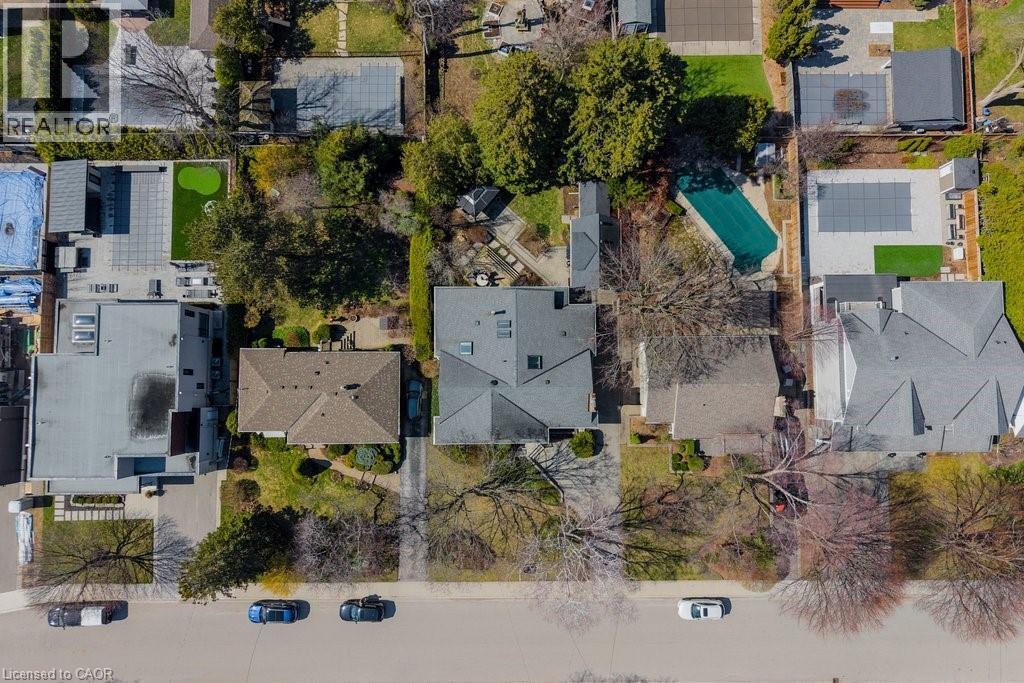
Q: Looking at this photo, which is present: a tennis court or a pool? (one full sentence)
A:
I can see a pool in this picture.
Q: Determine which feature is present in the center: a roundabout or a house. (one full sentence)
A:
Looking in the center, you will find a house.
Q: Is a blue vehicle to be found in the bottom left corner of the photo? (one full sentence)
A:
Yes, I can see a blue vehicle in the bottom left corner of the photo.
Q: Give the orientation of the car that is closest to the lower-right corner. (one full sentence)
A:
Seen from above, the car that is closest to the lower-right corner lies from side to side.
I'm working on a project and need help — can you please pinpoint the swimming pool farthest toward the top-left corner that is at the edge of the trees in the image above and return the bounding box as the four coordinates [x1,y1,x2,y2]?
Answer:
[67,66,112,122]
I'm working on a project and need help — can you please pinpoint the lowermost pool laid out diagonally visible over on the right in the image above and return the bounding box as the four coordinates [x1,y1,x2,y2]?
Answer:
[678,168,777,275]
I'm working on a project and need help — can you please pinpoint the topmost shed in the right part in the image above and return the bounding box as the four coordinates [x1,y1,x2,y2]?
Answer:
[615,0,652,33]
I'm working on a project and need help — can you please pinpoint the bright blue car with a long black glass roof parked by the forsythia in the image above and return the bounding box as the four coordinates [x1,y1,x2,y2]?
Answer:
[248,600,297,625]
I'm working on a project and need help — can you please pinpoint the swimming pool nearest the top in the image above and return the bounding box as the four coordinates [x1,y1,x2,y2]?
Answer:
[654,0,756,44]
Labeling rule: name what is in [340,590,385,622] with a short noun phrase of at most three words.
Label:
car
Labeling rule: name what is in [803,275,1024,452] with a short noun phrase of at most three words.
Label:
house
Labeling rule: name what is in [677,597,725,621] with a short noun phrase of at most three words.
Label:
car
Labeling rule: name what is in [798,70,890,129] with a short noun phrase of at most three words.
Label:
swimming pool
